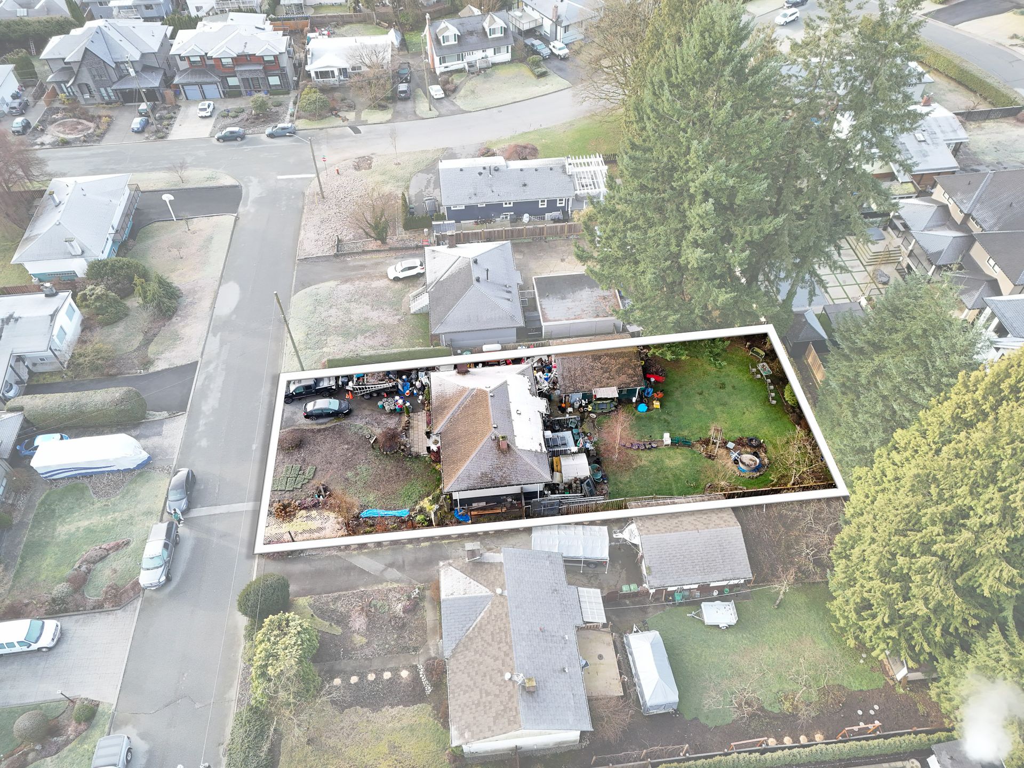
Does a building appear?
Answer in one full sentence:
Yes, a building appears in the view.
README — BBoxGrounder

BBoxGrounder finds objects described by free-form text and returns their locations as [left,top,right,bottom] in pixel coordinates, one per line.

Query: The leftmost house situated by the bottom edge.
[439,546,607,751]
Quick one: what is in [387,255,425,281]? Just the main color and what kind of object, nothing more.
white car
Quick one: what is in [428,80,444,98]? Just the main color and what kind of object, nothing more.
white car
